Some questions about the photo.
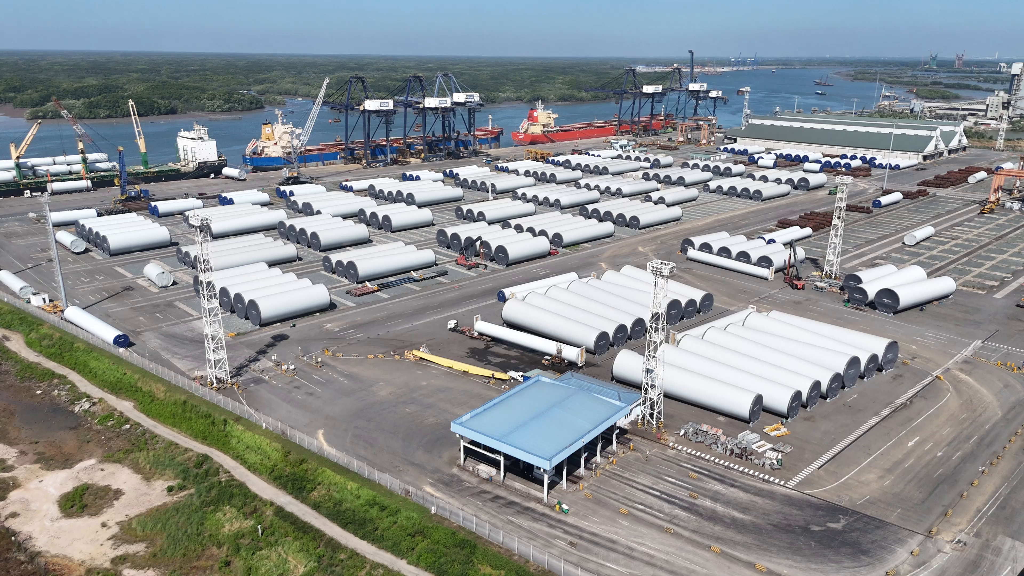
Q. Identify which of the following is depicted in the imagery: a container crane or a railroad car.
container crane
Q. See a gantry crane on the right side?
Yes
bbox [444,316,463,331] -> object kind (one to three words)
vehicle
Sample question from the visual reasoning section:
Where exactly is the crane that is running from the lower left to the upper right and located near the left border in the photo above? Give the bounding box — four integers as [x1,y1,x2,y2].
[8,121,44,180]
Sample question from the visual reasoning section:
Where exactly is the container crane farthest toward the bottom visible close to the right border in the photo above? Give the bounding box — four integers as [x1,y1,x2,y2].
[991,162,1024,208]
